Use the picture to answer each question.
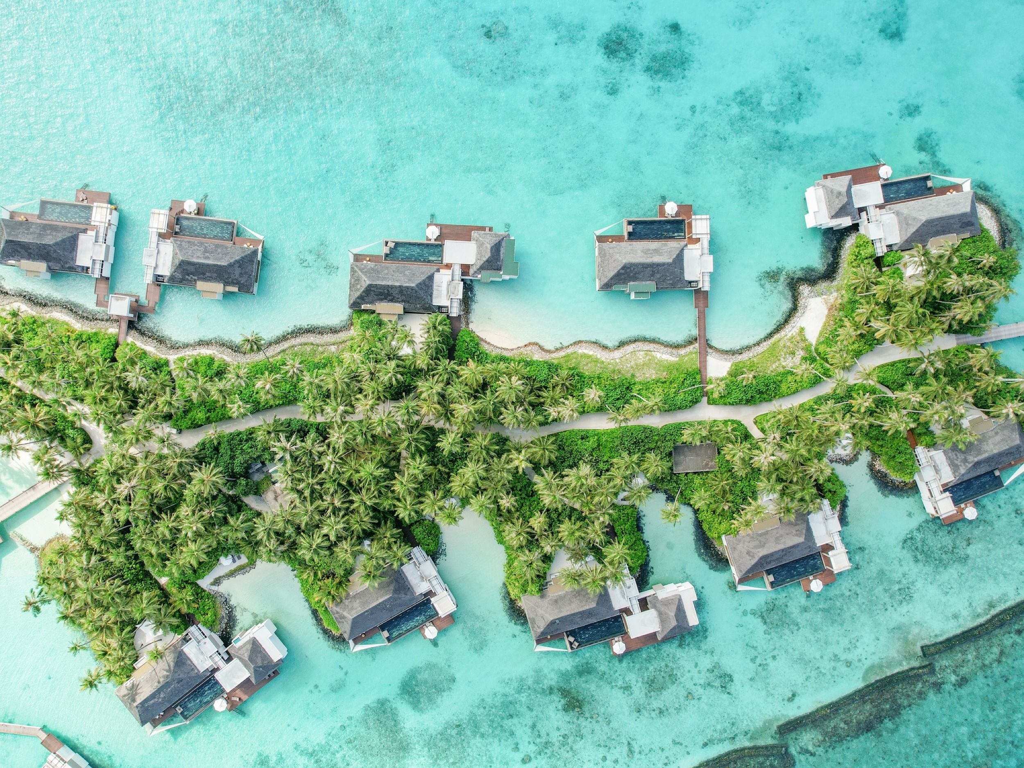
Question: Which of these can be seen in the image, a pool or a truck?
pool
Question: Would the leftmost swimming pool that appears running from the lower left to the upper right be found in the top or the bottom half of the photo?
bottom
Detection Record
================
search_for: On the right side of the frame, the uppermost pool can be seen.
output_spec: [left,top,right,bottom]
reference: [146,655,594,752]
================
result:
[876,172,938,204]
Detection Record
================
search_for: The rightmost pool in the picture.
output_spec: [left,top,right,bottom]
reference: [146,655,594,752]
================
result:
[949,461,1017,502]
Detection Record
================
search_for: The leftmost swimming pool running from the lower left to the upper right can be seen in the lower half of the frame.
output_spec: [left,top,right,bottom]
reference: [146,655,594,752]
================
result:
[172,674,230,726]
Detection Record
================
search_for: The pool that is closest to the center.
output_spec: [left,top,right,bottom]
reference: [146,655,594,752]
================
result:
[380,240,444,264]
